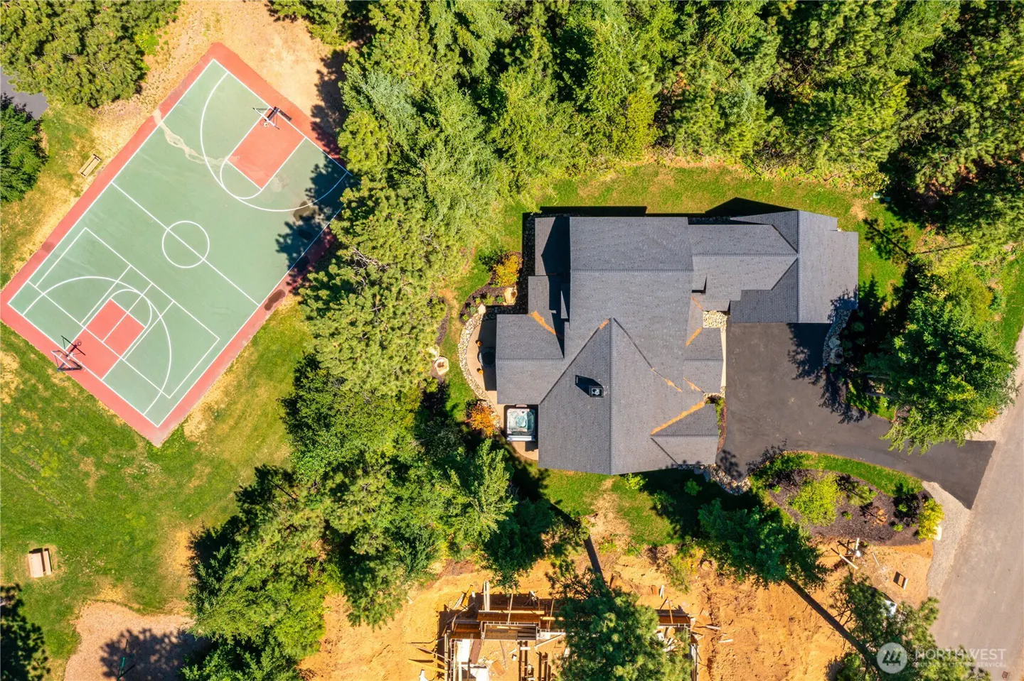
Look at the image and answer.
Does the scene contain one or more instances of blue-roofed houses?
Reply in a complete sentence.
No, the picture doesn't show any blue-roofed house.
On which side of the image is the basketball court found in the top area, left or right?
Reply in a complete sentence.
The basketball court found in the top area sits on the left side.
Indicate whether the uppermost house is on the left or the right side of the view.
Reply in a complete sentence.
The uppermost house sits on the right side.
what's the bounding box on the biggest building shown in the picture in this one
[496,210,858,475]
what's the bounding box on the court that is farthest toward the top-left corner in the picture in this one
[0,42,383,452]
